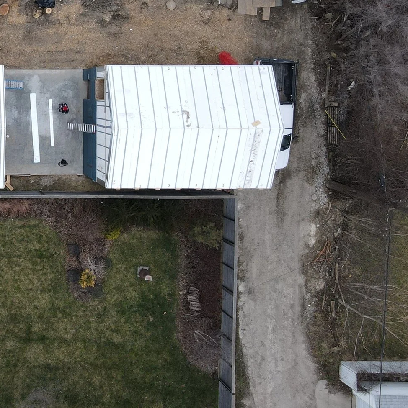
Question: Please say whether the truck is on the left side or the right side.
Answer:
right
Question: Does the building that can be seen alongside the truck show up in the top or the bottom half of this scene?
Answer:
top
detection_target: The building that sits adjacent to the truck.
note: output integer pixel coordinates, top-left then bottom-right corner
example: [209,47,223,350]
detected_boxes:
[83,65,281,190]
